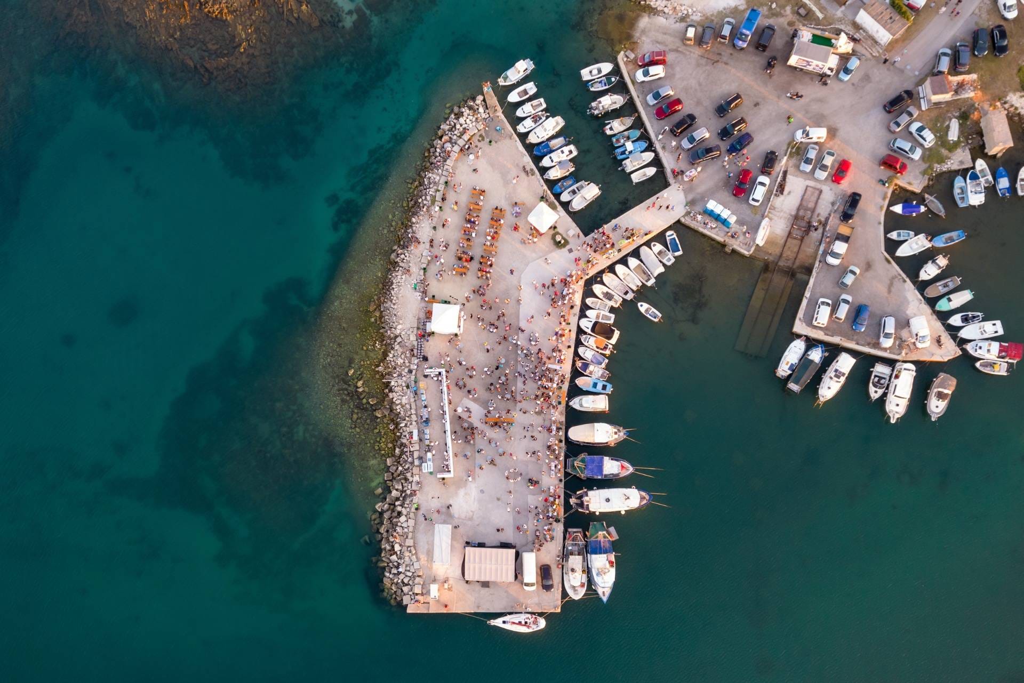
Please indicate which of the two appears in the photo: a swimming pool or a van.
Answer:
van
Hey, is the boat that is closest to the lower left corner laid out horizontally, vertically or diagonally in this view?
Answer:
horizontally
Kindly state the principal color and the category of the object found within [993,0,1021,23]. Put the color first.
white vehicle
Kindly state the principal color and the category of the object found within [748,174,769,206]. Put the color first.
white car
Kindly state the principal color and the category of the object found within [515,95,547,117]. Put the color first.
white boat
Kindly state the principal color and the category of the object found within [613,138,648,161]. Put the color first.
blue boat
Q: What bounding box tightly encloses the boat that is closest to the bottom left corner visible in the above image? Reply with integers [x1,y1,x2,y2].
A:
[462,612,551,632]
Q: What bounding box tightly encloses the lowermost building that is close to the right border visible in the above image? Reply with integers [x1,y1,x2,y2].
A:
[971,101,1013,168]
